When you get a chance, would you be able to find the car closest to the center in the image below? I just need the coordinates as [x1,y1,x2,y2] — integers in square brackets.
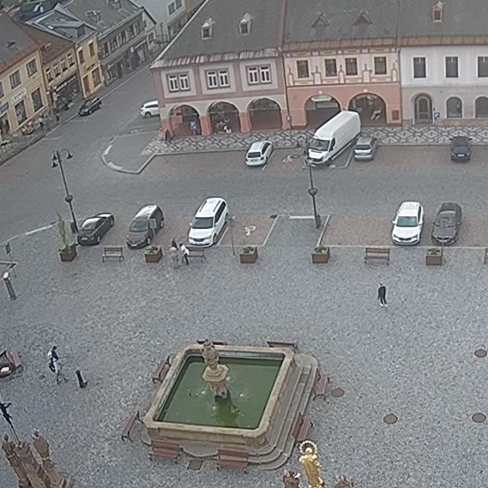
[187,198,232,245]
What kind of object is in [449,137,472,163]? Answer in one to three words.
car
